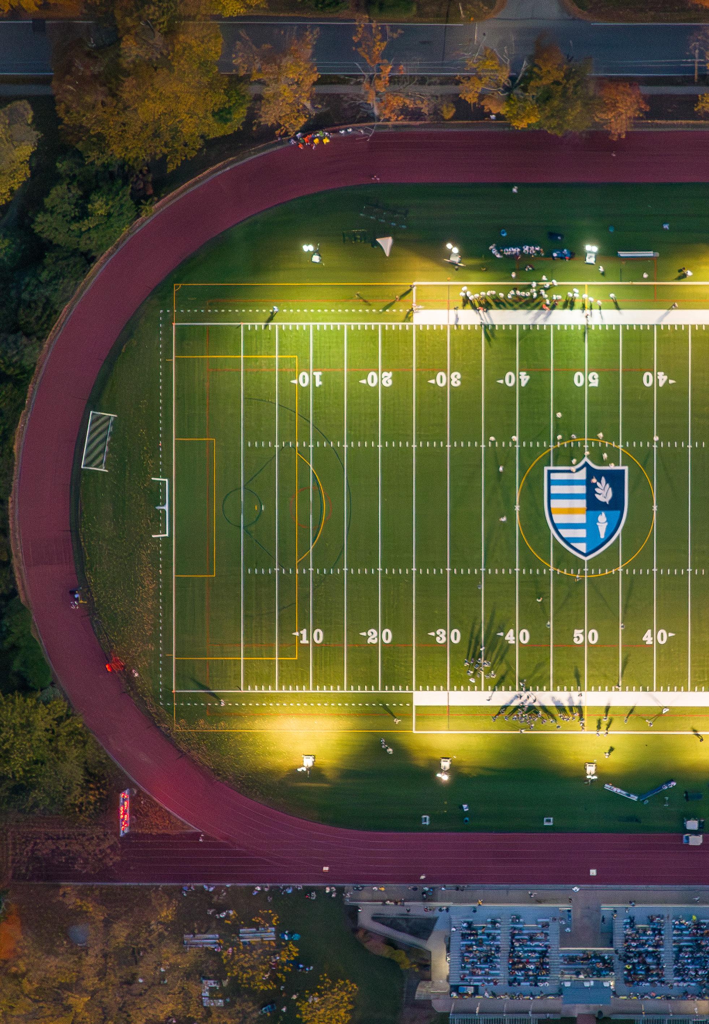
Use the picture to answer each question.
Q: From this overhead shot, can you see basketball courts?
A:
No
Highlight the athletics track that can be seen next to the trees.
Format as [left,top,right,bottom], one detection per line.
[8,129,709,887]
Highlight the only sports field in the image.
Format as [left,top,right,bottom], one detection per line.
[70,182,709,832]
